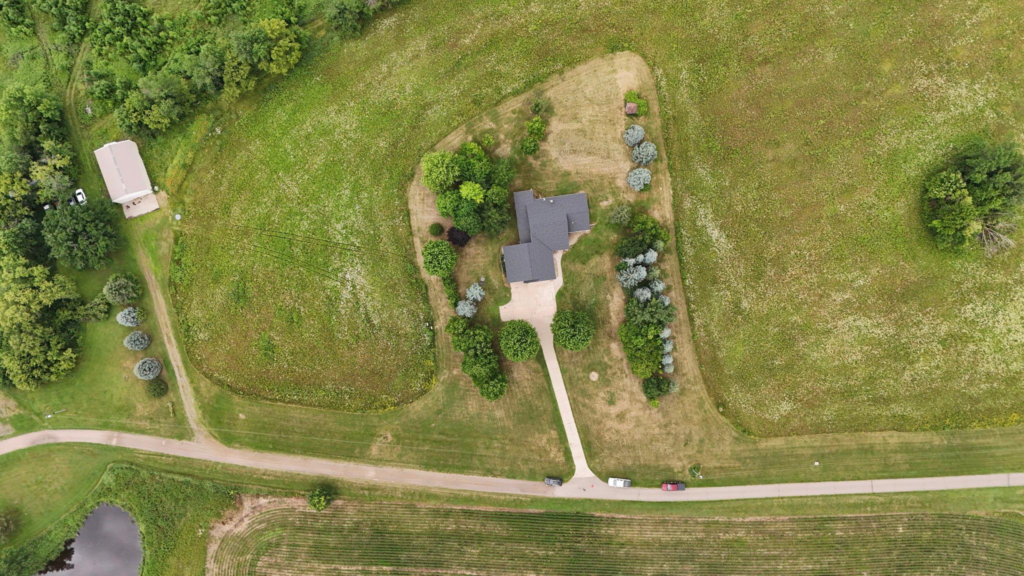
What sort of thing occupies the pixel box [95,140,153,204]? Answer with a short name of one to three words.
barn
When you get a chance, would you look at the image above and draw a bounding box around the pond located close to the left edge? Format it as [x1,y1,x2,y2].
[37,501,144,576]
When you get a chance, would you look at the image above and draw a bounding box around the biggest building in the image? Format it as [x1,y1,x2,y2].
[503,190,590,284]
